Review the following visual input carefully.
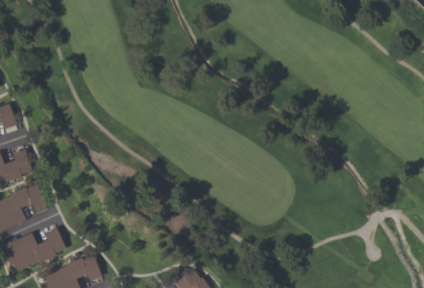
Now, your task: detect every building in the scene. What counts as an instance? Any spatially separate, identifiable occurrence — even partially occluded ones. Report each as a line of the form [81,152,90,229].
[0,186,46,232]
[175,270,211,288]
[0,104,18,134]
[0,150,32,183]
[38,257,103,288]
[8,228,66,272]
